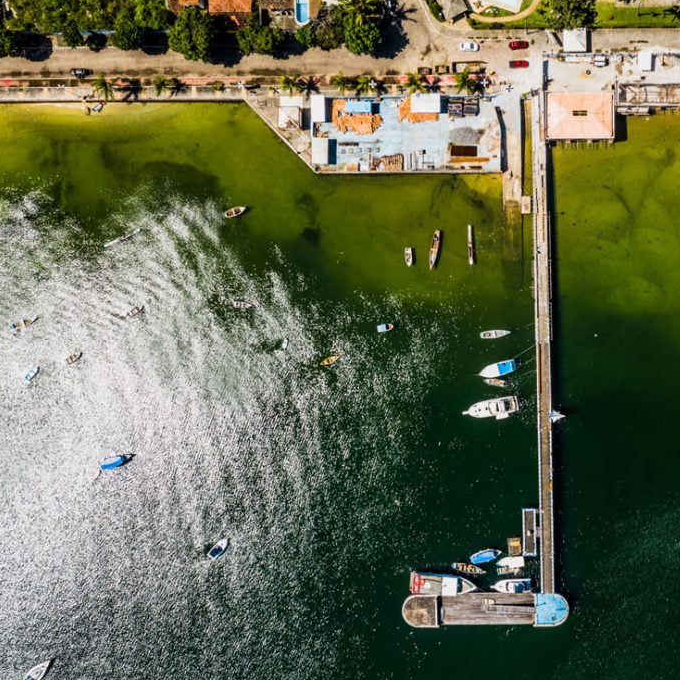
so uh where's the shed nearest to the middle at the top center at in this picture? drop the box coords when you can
[312,138,331,167]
